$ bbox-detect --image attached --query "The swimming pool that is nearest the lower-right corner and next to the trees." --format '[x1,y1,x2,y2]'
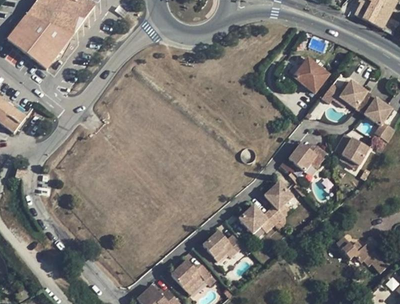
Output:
[312,180,328,202]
